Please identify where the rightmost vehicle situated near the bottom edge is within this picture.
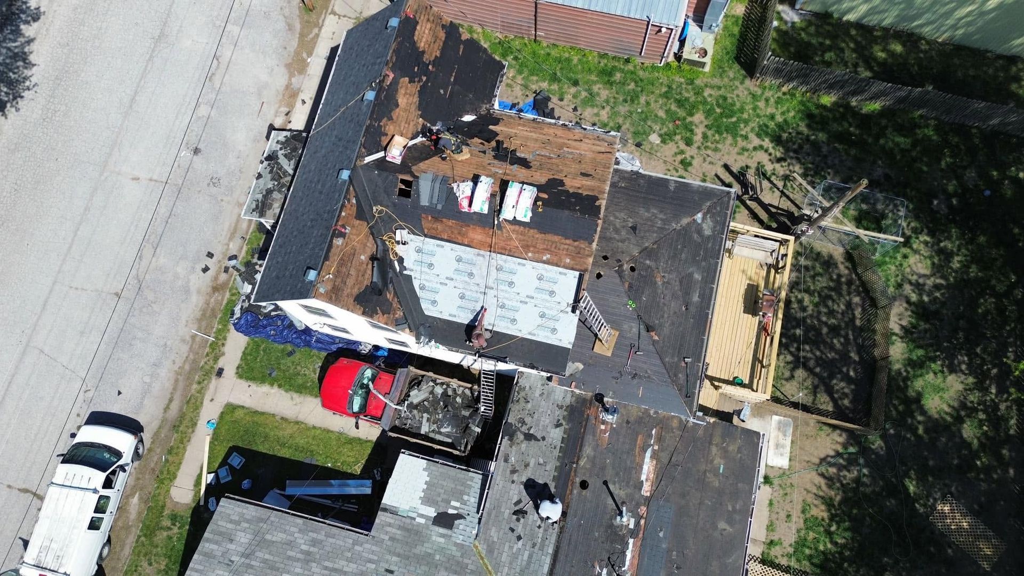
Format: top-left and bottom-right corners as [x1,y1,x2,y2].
[17,421,148,576]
